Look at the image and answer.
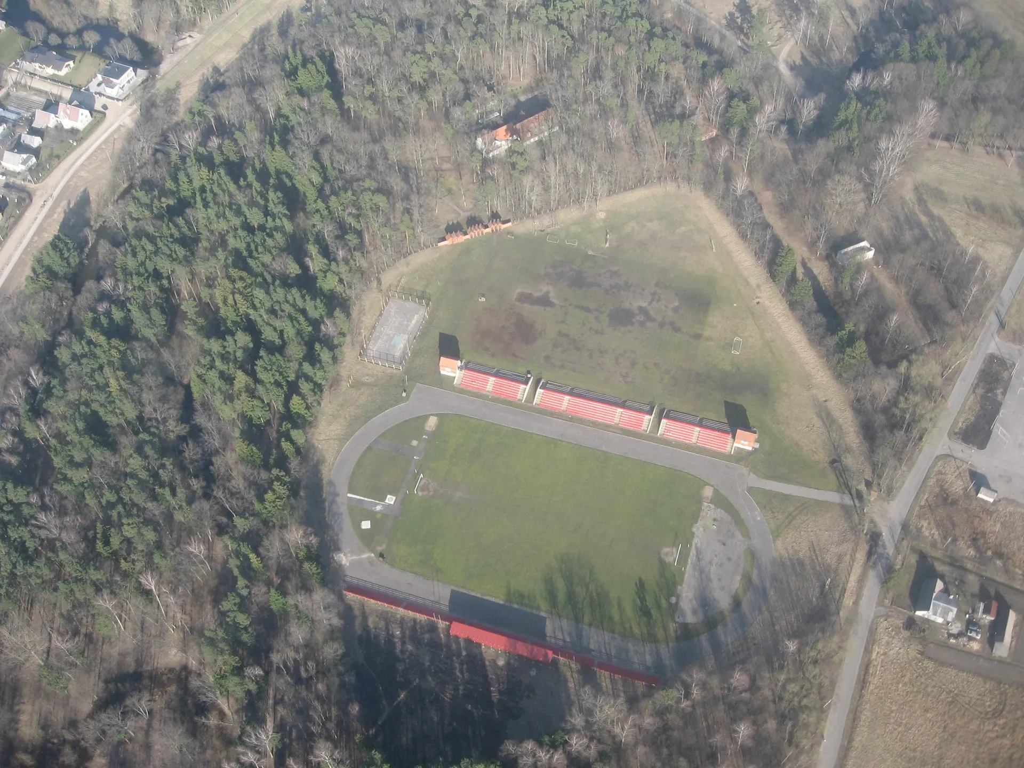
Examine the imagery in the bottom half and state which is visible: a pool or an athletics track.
athletics track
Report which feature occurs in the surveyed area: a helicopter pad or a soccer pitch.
soccer pitch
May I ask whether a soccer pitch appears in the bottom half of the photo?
Yes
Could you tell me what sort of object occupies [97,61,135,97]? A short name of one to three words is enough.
house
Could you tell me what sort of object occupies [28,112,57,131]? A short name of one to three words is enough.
house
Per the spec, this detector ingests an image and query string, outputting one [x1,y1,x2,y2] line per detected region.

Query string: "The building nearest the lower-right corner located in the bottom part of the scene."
[994,606,1022,665]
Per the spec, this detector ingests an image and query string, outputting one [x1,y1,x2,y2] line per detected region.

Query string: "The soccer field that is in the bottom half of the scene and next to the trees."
[347,414,753,642]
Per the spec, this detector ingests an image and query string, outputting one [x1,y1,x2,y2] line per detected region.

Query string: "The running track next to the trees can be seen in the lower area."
[327,385,773,676]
